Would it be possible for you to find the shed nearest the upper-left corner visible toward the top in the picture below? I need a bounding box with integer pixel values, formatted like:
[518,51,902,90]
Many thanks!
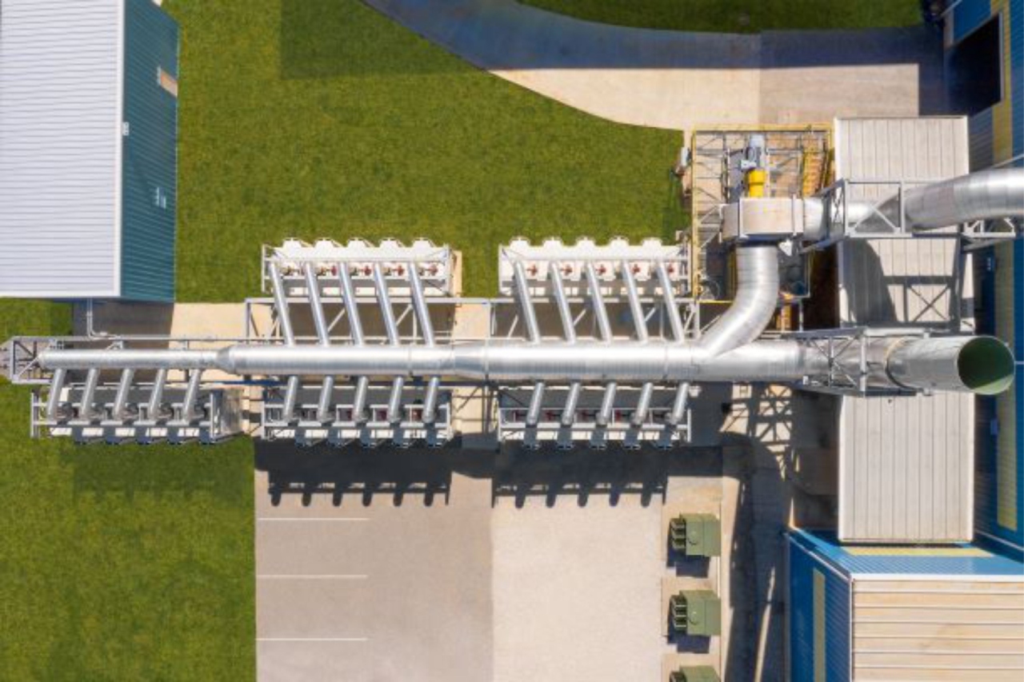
[0,0,177,303]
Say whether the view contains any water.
No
